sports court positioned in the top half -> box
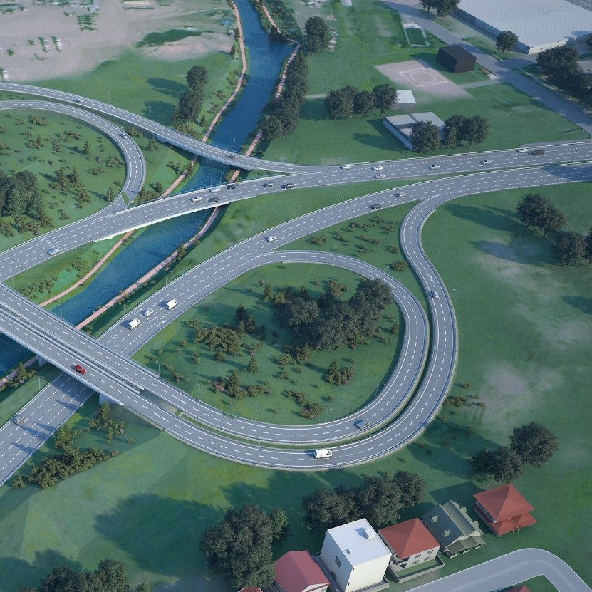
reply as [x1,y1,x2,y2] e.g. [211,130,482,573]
[398,23,433,46]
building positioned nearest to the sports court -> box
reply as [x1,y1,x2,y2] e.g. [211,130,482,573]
[435,45,477,75]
